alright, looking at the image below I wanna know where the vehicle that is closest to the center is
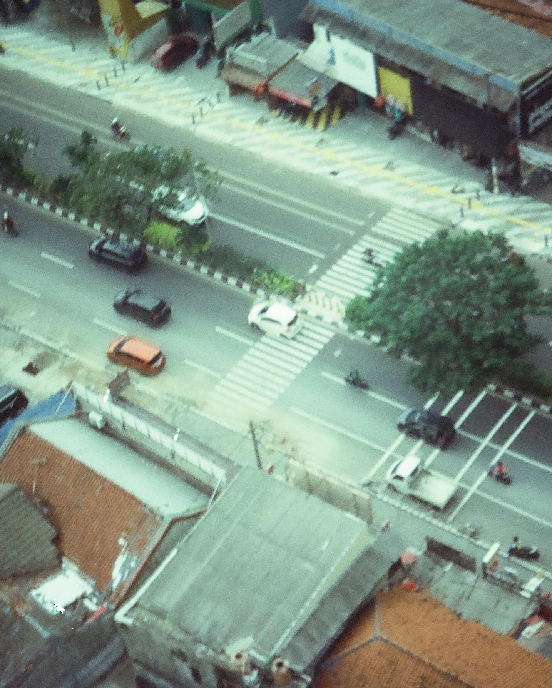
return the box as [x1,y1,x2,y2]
[248,305,302,342]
